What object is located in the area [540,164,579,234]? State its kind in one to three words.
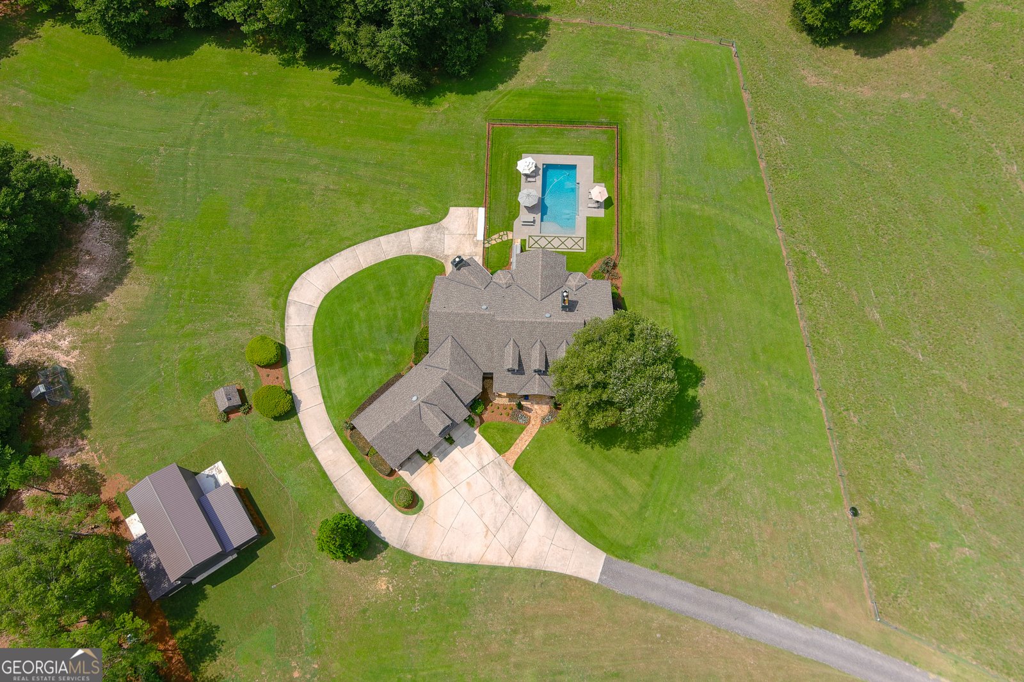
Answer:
swimming pool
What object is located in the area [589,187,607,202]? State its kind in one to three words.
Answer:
umbrella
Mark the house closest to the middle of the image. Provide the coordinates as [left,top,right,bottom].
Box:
[351,249,616,467]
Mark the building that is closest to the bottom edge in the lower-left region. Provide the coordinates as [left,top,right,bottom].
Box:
[127,465,260,601]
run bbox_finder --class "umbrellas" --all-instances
[589,187,607,202]
[518,190,538,208]
[517,160,535,176]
